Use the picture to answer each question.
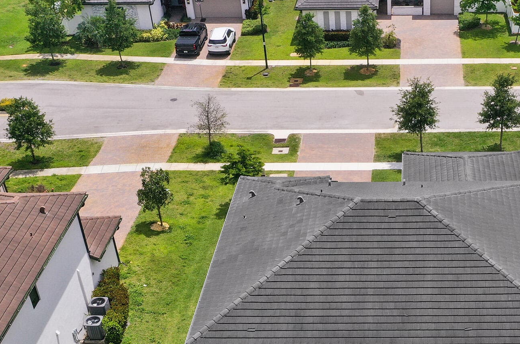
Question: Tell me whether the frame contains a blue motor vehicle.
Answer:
No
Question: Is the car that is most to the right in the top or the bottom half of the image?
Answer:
top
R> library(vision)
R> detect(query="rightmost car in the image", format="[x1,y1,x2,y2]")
[208,23,238,50]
